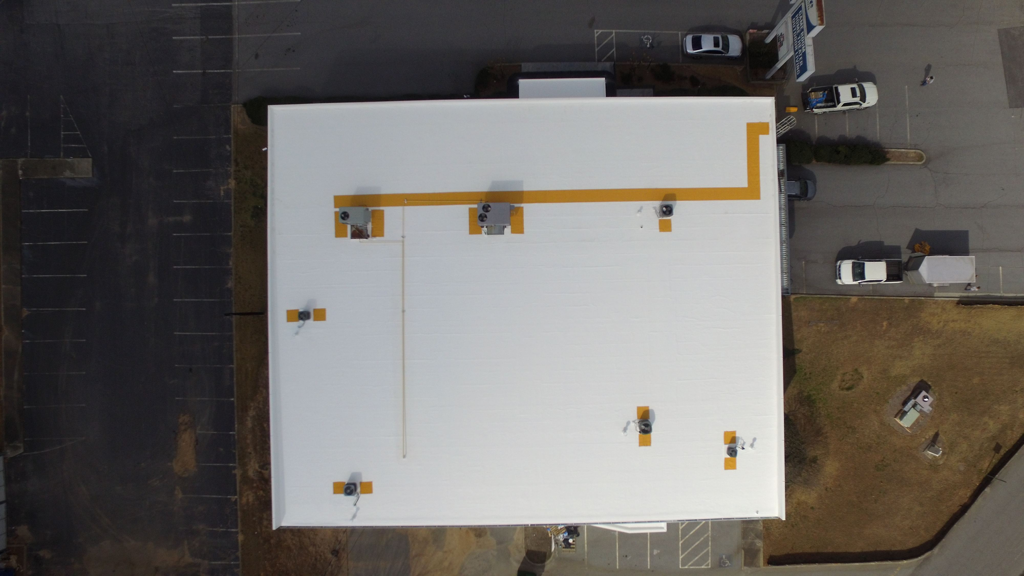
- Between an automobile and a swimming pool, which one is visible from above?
automobile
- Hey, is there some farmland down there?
No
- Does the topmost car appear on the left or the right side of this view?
right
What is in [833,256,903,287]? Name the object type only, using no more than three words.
truck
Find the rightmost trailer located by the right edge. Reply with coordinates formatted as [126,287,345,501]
[903,252,976,286]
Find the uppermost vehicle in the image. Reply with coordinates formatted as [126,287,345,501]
[682,31,743,59]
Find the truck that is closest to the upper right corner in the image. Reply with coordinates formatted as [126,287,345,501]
[799,79,879,113]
